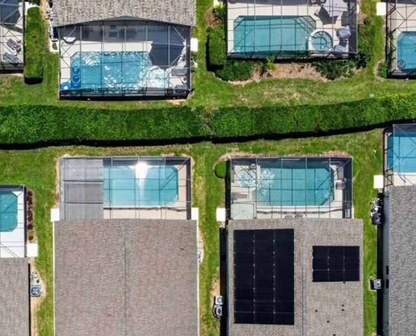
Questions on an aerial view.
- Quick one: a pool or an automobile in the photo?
pool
